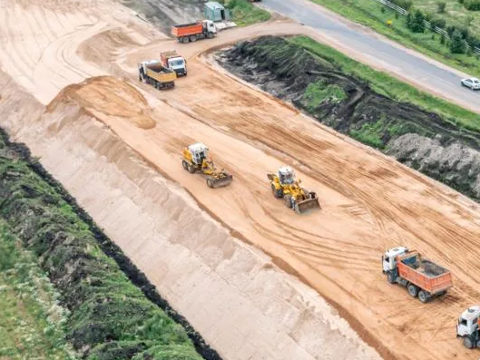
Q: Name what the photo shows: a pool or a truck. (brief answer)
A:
truck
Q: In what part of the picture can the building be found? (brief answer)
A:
top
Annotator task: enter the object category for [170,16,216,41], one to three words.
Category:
truck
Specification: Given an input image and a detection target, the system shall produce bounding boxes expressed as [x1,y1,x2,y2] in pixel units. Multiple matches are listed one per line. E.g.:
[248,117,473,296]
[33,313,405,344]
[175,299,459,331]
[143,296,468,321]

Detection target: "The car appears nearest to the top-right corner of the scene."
[461,75,480,89]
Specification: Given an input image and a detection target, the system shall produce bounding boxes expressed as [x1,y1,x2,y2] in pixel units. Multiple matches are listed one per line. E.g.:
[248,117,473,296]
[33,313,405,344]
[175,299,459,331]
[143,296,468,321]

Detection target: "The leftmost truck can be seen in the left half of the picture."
[131,56,171,86]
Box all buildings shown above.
[205,3,229,24]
